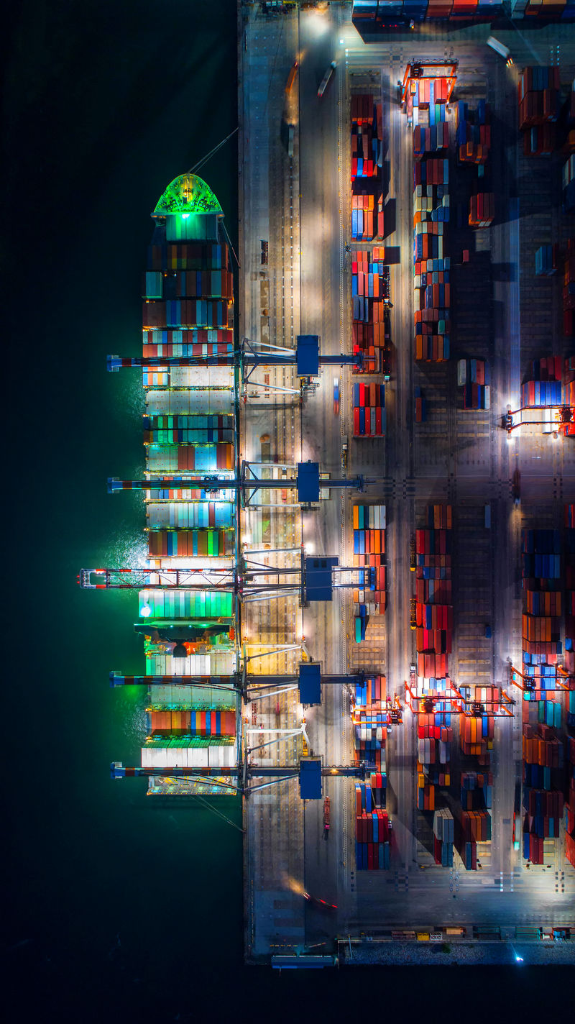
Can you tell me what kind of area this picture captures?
port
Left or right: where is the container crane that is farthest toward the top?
right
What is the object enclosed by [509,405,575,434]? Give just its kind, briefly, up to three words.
container crane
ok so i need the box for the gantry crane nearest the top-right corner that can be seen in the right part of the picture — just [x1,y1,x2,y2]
[401,61,461,116]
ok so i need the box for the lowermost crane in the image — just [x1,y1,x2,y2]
[107,708,380,799]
